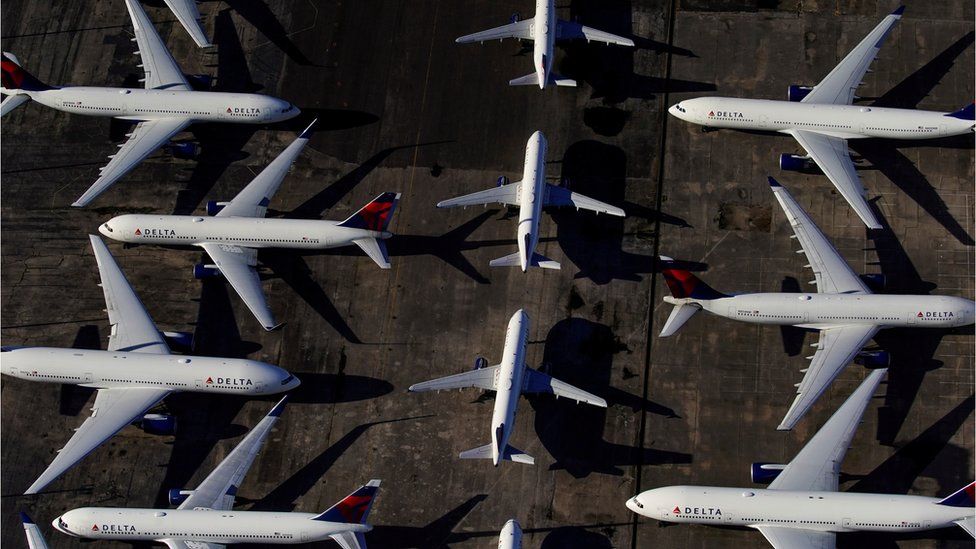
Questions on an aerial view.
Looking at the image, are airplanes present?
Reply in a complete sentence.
Yes, looking at the shot, I can spot an airplane.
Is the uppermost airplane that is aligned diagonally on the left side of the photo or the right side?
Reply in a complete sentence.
The uppermost airplane that is aligned diagonally is on the left side of the image.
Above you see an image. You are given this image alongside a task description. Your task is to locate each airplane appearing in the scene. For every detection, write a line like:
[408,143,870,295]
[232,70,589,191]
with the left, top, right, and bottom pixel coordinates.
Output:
[98,121,399,326]
[455,0,635,92]
[660,177,976,429]
[494,521,518,549]
[165,0,214,51]
[668,7,976,230]
[436,134,625,272]
[408,312,607,465]
[0,0,301,206]
[52,395,381,549]
[22,513,50,549]
[627,371,976,549]
[0,235,301,493]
